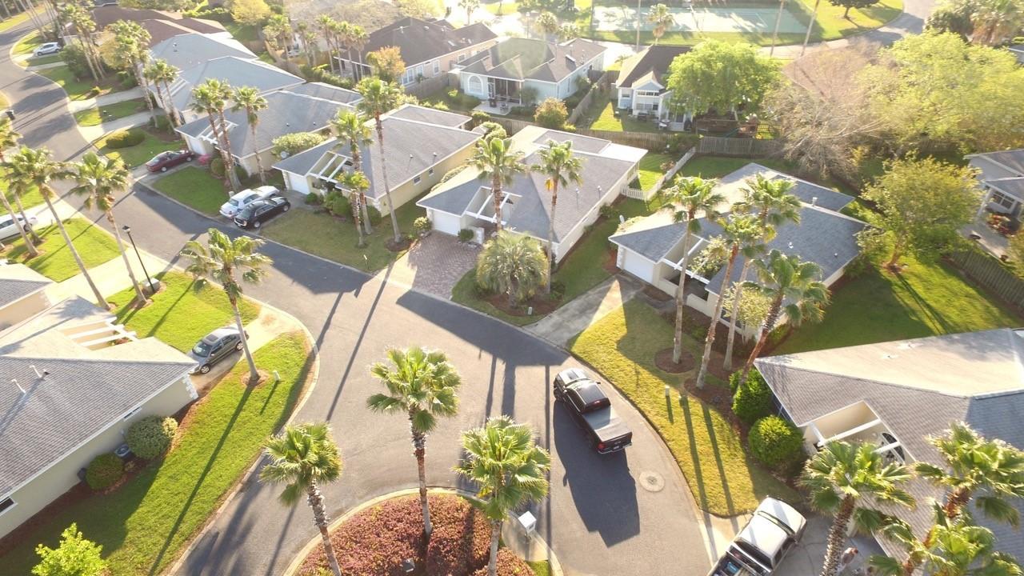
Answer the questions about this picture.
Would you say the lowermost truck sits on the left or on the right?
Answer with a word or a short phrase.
right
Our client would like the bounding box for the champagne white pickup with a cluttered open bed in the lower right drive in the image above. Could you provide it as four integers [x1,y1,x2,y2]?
[704,502,803,576]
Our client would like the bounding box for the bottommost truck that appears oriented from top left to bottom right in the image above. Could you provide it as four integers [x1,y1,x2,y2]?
[553,372,634,460]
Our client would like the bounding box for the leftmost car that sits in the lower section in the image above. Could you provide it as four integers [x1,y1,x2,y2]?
[189,327,257,379]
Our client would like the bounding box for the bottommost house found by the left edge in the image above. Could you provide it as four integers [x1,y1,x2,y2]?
[0,294,200,538]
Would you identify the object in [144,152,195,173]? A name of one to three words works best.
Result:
car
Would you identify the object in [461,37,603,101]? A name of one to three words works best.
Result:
house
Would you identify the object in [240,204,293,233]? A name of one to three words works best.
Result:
car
